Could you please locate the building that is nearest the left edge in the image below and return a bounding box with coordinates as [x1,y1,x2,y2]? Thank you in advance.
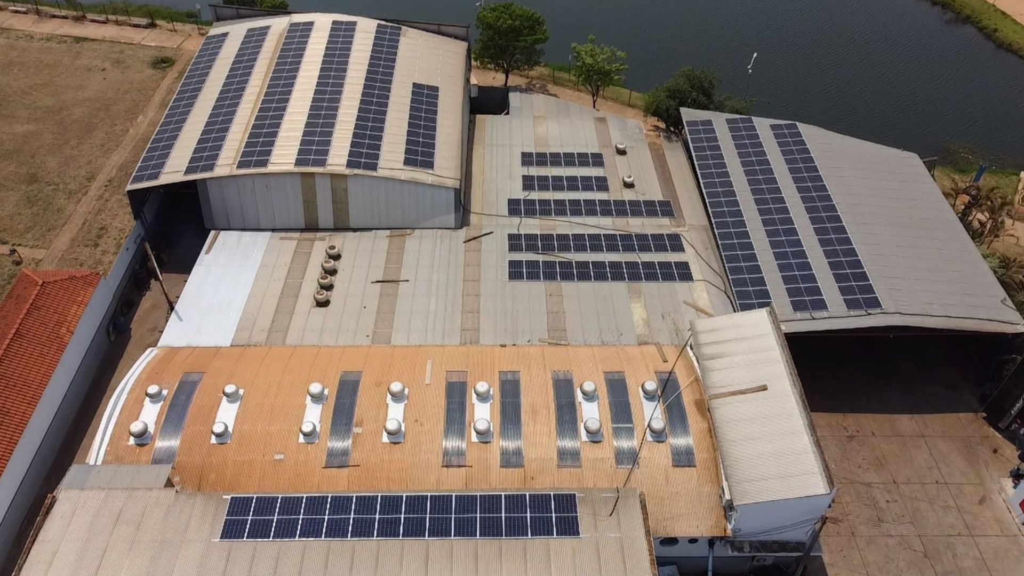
[0,268,103,470]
